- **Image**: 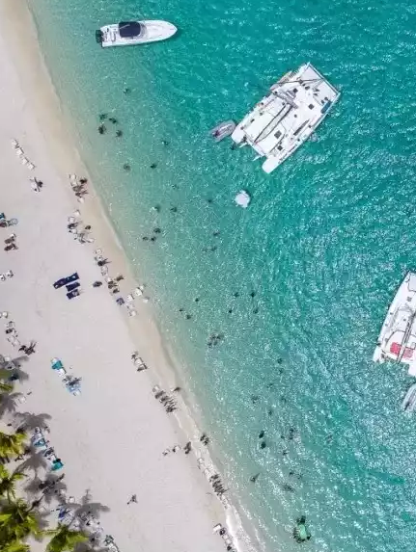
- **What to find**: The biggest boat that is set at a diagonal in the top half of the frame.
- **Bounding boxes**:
[234,62,340,172]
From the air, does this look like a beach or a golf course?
beach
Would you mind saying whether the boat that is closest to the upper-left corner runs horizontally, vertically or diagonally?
horizontally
